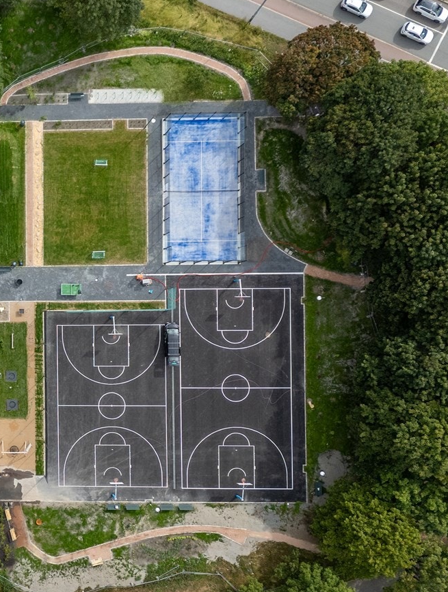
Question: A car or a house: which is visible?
car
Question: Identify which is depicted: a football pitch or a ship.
football pitch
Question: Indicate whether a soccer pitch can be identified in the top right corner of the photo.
No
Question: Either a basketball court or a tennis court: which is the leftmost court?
basketball court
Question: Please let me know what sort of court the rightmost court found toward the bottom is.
basketball court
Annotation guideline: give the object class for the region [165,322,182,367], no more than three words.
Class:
vehicle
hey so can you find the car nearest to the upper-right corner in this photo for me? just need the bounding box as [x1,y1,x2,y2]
[410,0,448,24]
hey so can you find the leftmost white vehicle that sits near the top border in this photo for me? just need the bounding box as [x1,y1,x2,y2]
[338,0,373,19]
